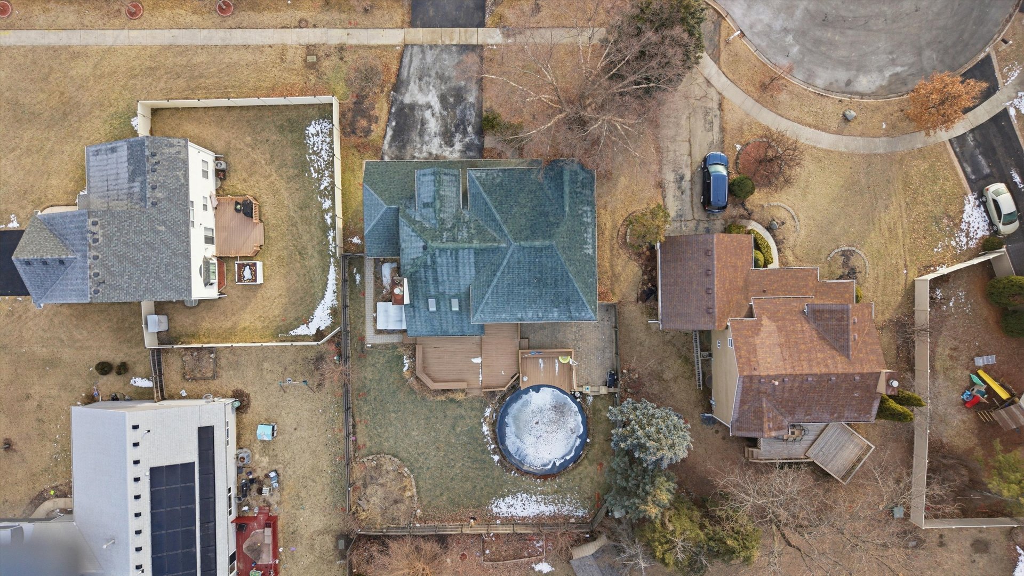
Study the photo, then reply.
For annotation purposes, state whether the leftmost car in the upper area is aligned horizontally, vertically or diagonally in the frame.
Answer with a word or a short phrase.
vertically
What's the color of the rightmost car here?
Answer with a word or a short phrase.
white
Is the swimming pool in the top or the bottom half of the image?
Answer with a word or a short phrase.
bottom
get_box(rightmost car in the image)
[984,180,1023,238]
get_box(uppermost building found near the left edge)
[12,136,227,303]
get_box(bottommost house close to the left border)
[22,398,237,576]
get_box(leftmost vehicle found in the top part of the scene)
[702,152,733,213]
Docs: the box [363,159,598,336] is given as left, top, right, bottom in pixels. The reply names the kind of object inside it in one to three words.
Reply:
house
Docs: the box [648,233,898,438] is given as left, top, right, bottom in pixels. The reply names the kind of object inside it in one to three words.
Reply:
house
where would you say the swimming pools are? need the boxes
[497,384,588,475]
